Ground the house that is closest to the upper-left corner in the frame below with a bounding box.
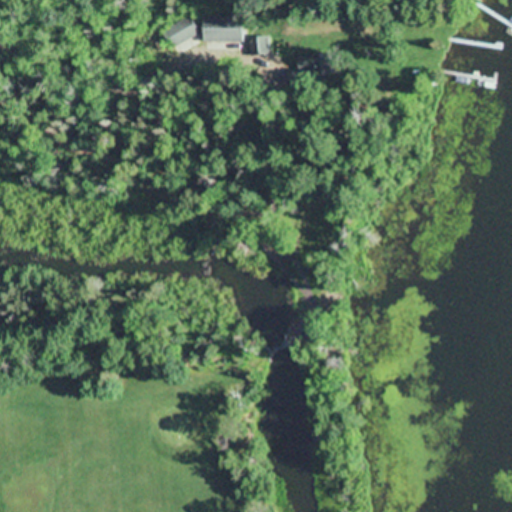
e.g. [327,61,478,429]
[168,15,200,44]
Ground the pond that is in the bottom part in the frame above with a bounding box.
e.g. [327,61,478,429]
[213,264,325,512]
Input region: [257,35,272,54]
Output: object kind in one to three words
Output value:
shed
